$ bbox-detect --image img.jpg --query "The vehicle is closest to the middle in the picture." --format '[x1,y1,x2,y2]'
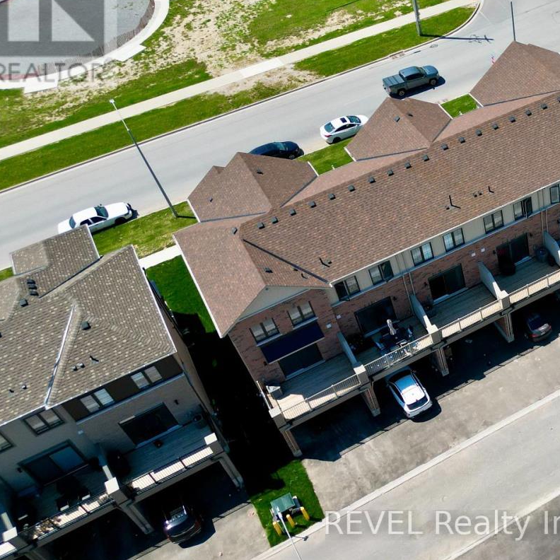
[244,137,302,158]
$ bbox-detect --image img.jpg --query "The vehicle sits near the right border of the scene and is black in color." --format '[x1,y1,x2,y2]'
[513,302,554,341]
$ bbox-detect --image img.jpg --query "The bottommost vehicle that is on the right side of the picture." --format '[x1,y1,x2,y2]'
[382,364,434,415]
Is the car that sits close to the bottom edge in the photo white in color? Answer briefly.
No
